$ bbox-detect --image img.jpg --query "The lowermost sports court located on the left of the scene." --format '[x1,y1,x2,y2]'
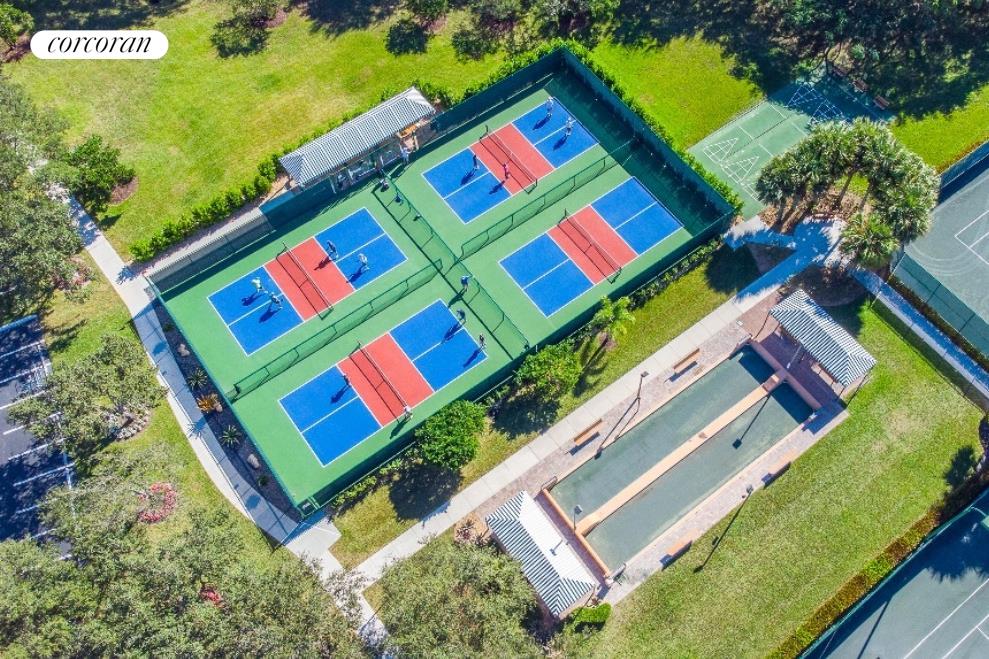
[278,299,488,466]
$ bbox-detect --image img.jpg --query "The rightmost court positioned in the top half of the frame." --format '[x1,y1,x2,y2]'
[889,157,989,363]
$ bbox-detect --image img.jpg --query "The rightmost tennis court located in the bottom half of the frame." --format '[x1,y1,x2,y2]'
[820,502,989,659]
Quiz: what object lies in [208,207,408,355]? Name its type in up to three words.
sports court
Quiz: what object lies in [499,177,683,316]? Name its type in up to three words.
sports court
